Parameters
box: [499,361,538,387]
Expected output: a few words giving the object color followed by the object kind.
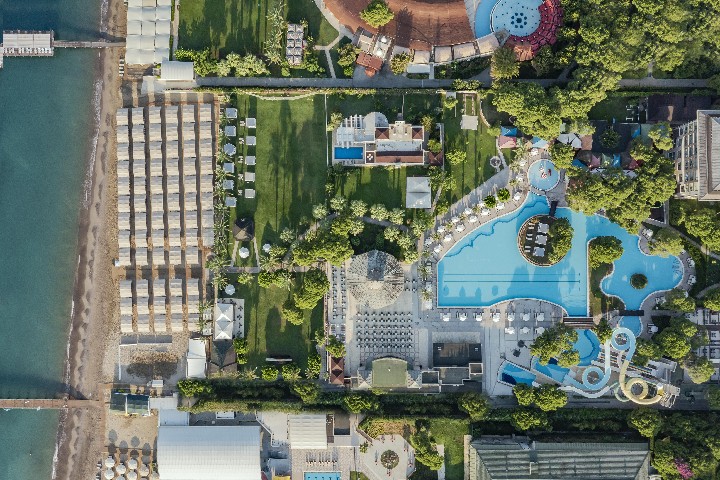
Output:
blue swimming pool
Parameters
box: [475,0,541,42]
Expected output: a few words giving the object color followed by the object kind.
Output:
blue swimming pool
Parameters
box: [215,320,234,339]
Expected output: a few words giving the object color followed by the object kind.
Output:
white tent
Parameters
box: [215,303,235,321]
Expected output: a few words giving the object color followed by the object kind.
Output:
white tent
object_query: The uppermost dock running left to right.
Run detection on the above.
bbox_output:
[1,30,127,56]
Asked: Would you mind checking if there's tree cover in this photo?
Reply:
Yes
